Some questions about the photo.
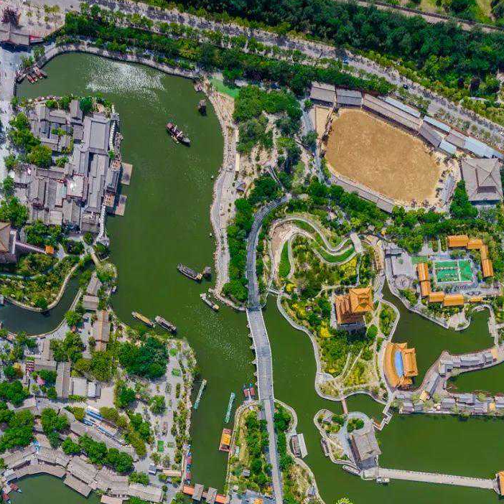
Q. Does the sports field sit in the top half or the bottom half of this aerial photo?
top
